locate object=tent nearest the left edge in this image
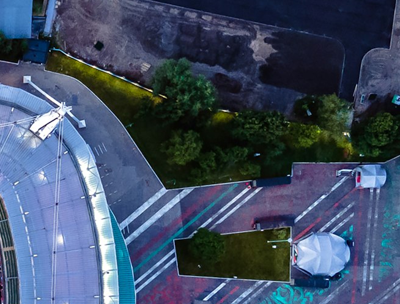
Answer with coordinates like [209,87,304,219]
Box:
[290,231,353,278]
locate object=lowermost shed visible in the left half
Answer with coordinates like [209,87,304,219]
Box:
[21,40,49,67]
